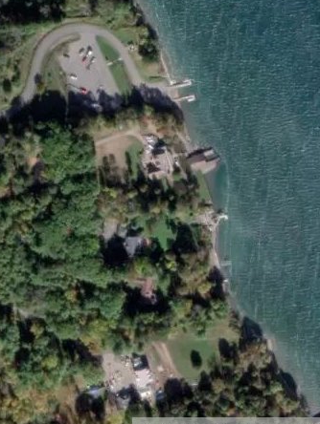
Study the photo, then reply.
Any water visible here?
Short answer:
Yes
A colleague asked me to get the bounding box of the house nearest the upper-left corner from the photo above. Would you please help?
[146,144,173,177]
